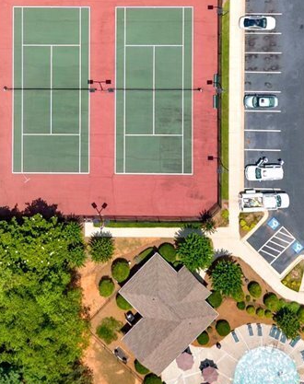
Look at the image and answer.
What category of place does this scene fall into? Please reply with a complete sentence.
This looks like a sports ground.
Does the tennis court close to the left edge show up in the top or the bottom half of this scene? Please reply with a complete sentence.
Seen from above, the tennis court close to the left edge lies in the top half of the view.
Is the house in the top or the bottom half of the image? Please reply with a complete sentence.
The bottom half of the photo is where the house is.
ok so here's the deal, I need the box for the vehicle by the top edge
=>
[239,15,275,31]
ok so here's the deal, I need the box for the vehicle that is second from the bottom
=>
[246,160,284,181]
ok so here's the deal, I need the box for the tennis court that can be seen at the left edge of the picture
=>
[0,0,102,219]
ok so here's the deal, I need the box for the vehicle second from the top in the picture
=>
[244,94,278,109]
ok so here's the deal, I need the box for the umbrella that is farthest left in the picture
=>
[176,353,193,370]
